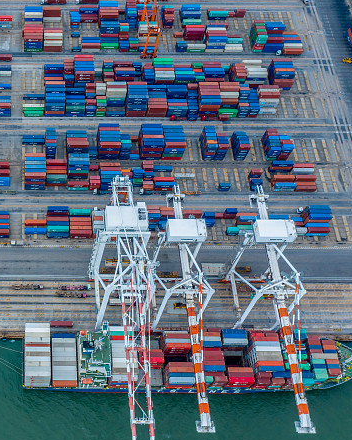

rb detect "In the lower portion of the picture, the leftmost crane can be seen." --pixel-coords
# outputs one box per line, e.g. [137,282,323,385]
[84,167,160,440]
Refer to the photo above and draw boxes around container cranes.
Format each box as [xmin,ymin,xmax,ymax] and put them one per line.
[84,167,160,440]
[217,184,317,430]
[140,4,163,58]
[146,183,217,428]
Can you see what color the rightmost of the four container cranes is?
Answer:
white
